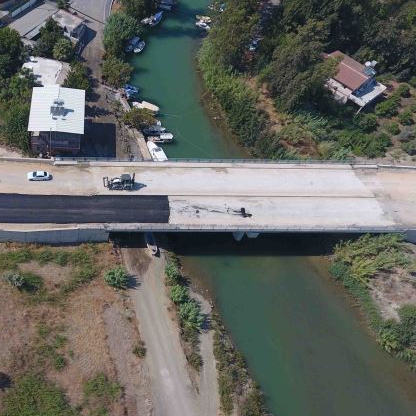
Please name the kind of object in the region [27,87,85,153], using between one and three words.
house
